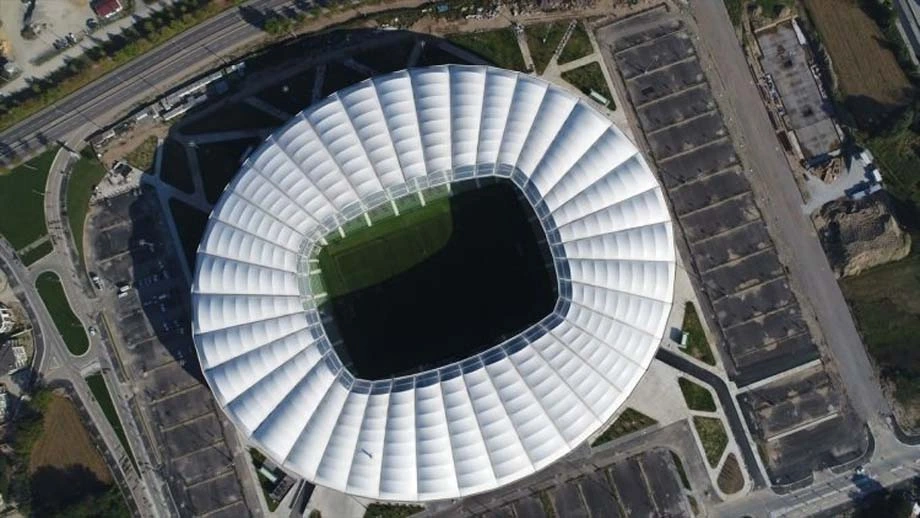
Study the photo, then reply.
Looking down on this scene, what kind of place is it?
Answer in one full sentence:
The picture captures a sports ground.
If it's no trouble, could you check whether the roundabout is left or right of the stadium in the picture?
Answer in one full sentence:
Compared with the stadium, the roundabout is located further to the left.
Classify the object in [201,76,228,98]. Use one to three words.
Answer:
shed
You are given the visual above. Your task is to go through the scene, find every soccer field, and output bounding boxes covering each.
[328,190,548,367]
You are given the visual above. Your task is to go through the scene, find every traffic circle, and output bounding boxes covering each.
[28,264,99,362]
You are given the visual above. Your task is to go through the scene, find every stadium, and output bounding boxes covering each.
[191,64,675,502]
